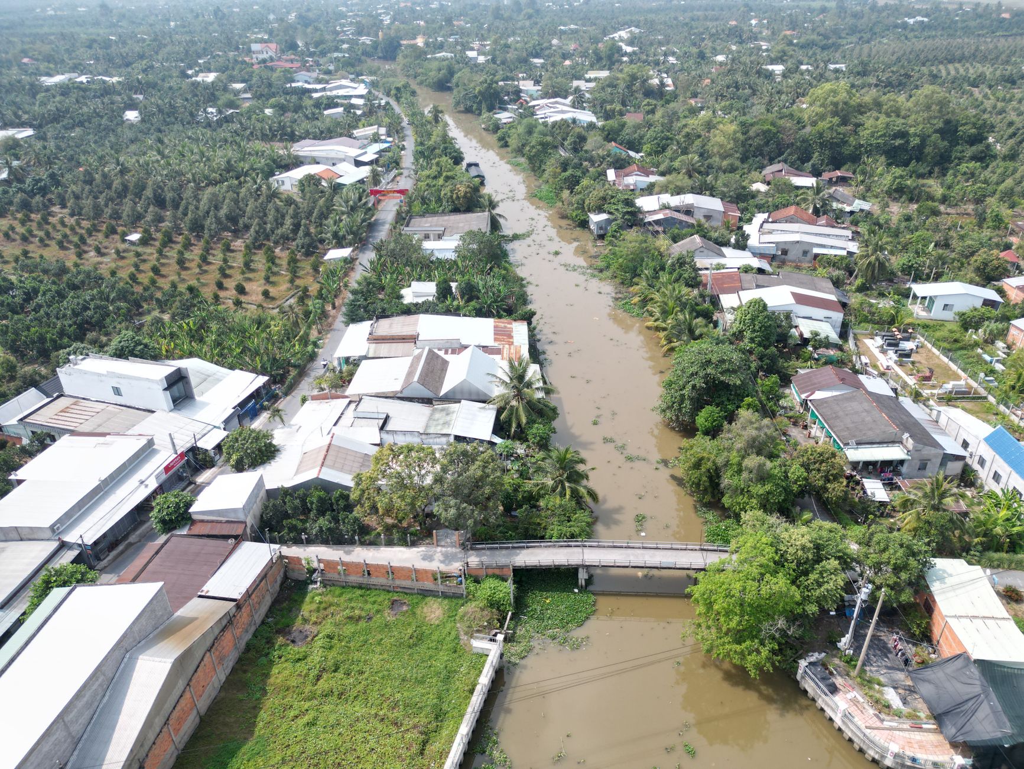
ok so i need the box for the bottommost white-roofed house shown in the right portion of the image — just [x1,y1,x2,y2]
[915,558,1024,668]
